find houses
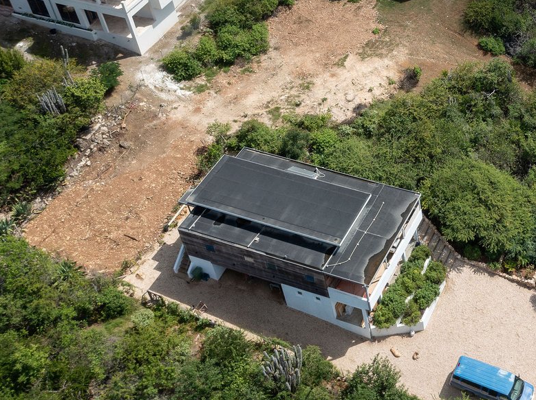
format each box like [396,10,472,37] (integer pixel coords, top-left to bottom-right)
[0,0,202,55]
[168,144,416,340]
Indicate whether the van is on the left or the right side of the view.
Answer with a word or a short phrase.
right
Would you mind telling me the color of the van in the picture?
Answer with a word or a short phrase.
blue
